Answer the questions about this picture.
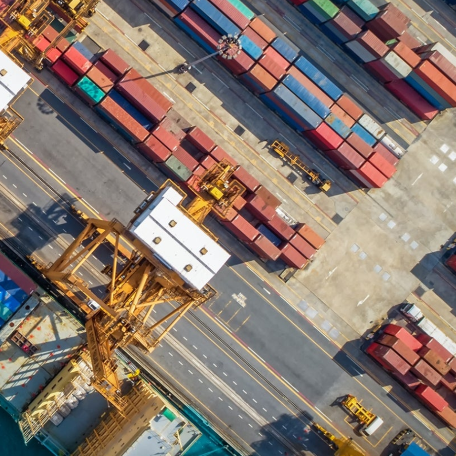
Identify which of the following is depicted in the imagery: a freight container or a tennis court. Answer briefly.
freight container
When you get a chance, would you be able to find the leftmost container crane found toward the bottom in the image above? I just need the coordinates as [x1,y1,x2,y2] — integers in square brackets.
[32,160,257,432]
